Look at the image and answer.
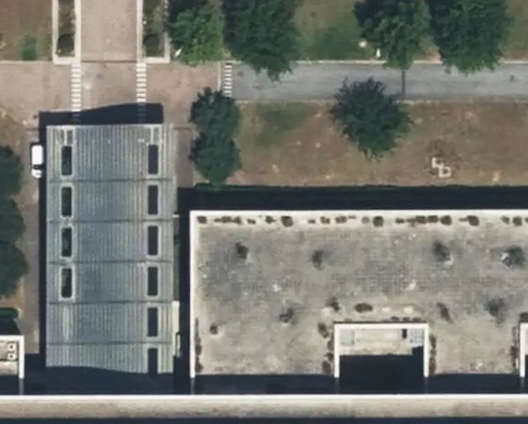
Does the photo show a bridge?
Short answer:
No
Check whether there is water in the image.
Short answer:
No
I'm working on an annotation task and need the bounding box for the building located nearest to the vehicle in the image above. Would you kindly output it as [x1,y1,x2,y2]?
[47,125,180,397]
